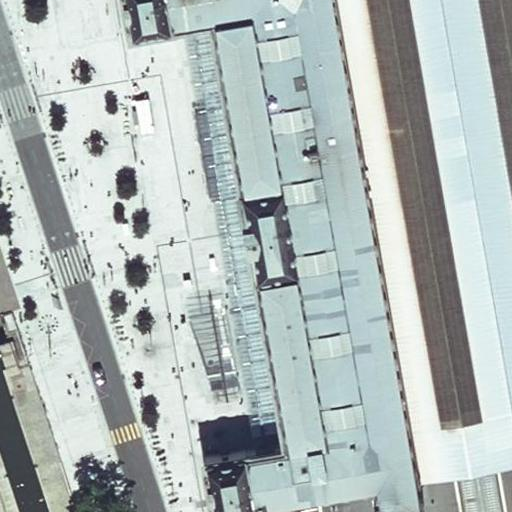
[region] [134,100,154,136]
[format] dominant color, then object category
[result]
white vehicle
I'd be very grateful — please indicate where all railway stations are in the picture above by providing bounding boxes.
[122,0,427,512]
